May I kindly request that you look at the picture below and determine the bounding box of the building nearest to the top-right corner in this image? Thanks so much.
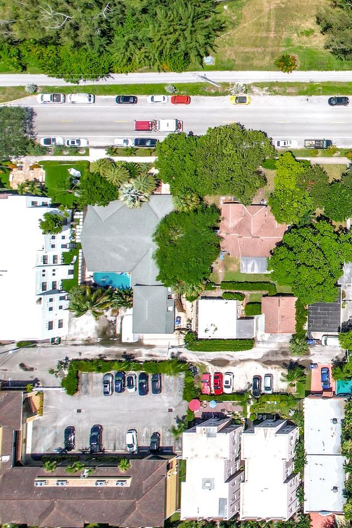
[218,203,288,273]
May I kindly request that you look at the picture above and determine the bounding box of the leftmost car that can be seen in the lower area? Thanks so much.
[65,426,77,451]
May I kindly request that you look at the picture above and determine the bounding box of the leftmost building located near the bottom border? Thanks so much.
[0,387,181,528]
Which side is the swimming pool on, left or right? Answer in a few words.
left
